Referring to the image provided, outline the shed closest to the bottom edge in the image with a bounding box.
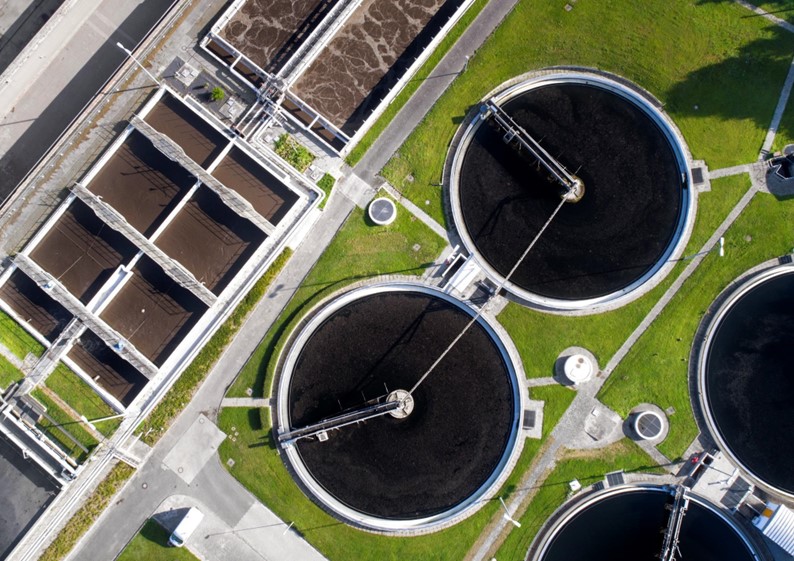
[756,502,794,553]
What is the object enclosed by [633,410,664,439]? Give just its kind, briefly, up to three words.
storage tank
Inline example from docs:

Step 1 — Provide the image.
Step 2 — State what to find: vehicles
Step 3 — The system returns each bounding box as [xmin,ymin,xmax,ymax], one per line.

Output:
[169,504,206,549]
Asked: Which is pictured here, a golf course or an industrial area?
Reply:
industrial area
